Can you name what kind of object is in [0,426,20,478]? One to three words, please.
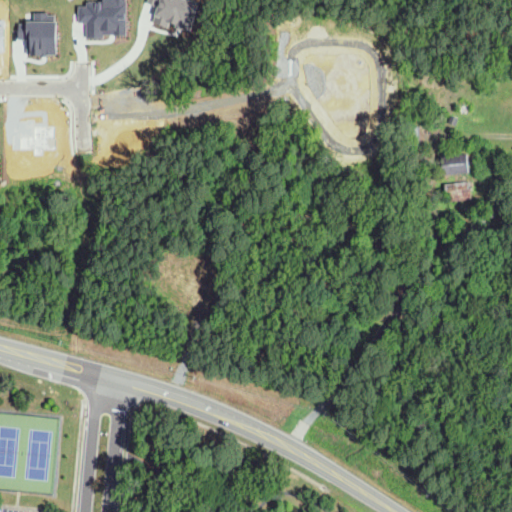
tennis court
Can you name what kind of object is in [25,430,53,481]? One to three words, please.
tennis court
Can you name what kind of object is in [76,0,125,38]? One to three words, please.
house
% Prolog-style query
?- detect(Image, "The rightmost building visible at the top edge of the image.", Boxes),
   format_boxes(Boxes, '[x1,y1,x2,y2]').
[150,0,186,30]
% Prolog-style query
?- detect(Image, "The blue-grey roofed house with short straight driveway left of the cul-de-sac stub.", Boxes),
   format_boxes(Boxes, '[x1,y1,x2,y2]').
[16,12,56,56]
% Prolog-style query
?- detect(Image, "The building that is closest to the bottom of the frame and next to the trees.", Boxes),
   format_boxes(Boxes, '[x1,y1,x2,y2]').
[446,182,472,201]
